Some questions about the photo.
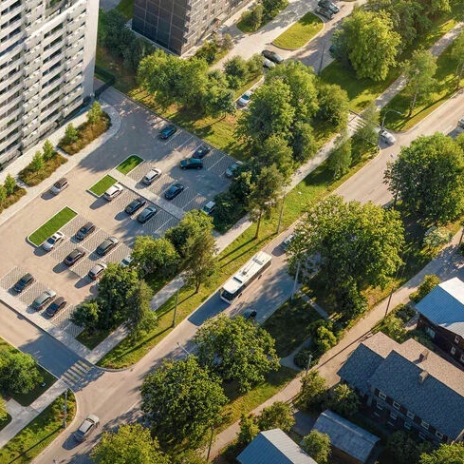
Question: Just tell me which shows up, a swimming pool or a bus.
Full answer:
I can see a bus in this picture.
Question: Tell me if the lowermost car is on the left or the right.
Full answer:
The lowermost car sits on the left side.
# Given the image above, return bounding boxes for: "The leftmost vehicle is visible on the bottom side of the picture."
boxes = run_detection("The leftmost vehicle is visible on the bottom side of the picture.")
[11,273,37,294]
